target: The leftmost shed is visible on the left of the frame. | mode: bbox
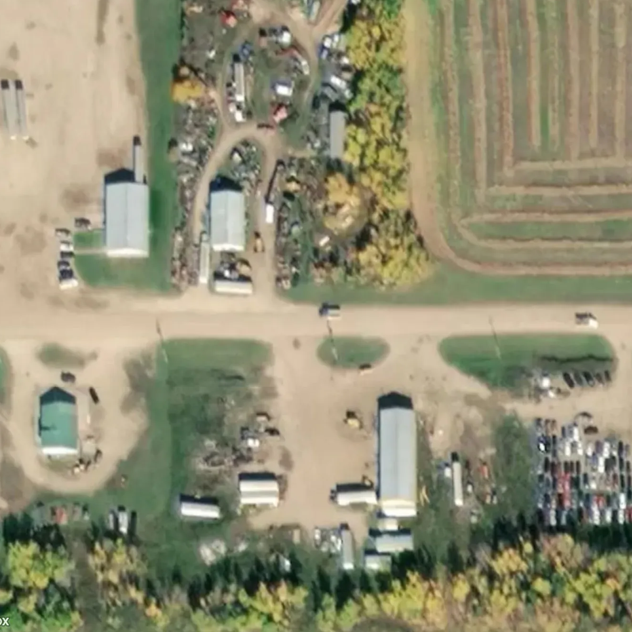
[39,400,80,453]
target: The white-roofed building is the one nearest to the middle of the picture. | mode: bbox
[214,279,253,292]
